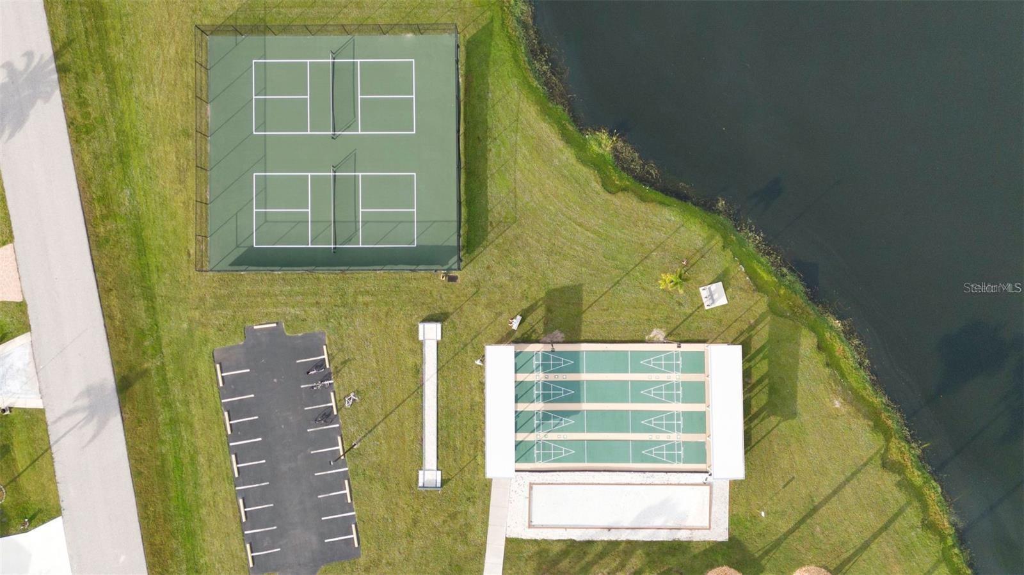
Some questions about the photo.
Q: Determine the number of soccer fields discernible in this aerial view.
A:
zero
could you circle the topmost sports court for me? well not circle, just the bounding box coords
[209,34,459,153]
